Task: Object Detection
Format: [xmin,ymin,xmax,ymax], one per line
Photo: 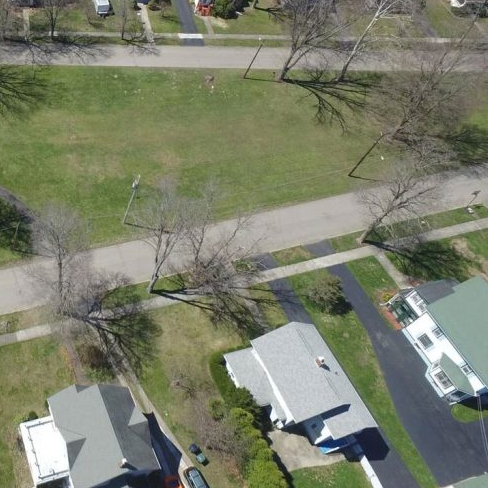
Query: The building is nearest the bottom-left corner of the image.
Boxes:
[18,375,167,488]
